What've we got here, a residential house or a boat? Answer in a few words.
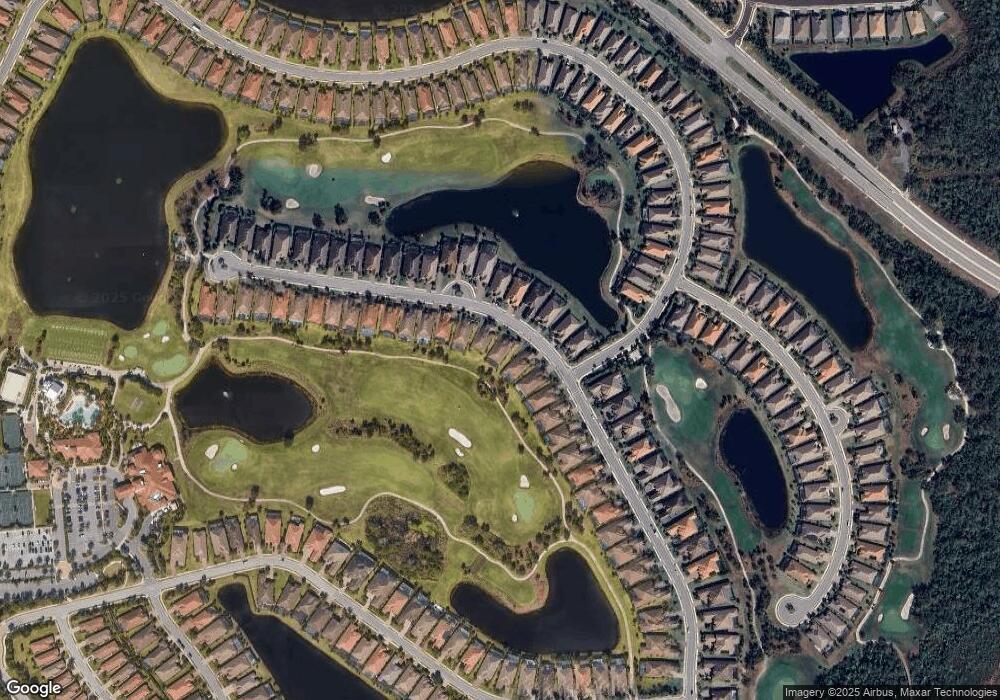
residential house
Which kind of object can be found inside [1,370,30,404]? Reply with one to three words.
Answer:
sports court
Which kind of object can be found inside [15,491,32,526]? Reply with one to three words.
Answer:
tennis court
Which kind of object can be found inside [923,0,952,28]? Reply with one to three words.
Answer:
house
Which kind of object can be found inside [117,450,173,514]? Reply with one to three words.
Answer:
building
